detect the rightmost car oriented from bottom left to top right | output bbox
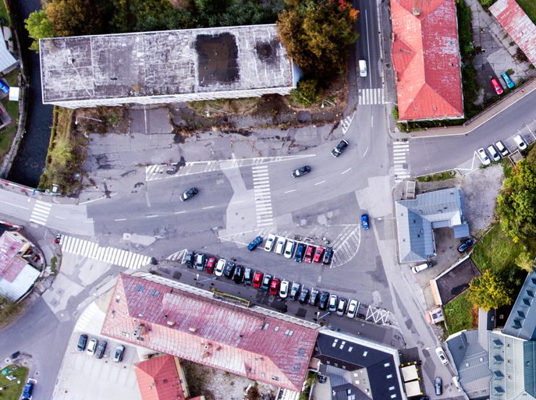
[457,237,474,253]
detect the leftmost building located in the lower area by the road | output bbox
[0,230,53,296]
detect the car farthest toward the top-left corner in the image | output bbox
[179,186,199,200]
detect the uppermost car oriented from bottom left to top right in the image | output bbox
[333,139,349,158]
